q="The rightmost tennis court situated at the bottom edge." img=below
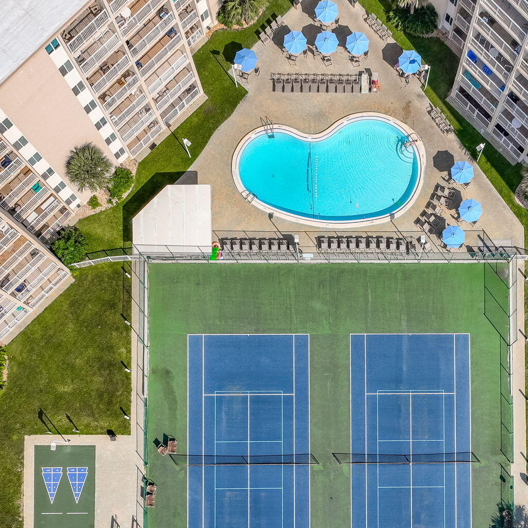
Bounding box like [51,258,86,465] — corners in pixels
[351,334,471,528]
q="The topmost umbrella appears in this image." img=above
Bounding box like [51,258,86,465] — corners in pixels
[315,1,338,31]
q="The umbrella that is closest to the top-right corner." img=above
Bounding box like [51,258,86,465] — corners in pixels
[398,53,421,79]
